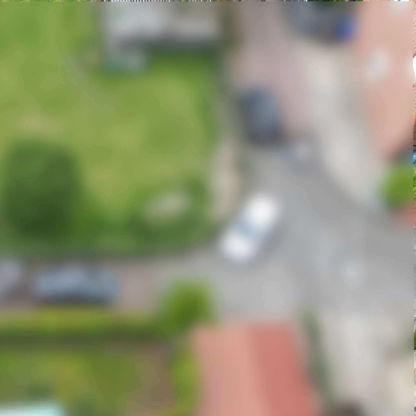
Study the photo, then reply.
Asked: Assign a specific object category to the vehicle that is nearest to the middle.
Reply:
car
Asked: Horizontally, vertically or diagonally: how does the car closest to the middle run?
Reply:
diagonally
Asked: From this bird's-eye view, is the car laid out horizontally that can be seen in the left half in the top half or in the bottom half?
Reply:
bottom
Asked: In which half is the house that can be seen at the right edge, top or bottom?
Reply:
top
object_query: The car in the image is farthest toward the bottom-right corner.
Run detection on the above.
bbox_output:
[215,196,274,267]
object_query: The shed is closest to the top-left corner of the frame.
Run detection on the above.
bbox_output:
[96,3,222,64]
